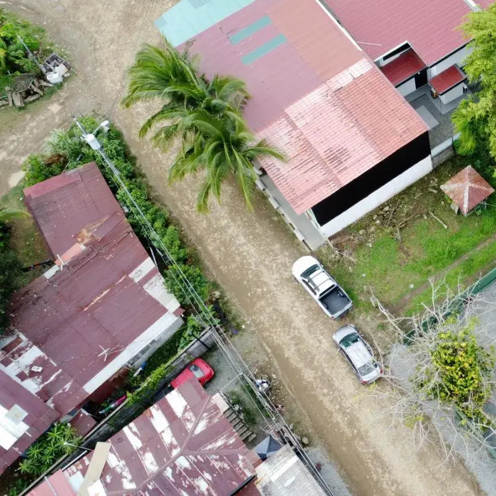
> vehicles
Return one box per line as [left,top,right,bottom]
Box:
[296,257,355,324]
[157,357,220,398]
[334,326,383,385]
